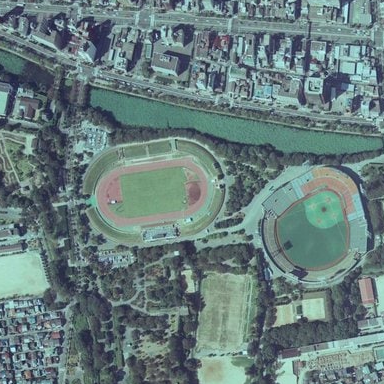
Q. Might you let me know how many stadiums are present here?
2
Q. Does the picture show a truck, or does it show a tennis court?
tennis court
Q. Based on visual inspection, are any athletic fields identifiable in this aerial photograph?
Yes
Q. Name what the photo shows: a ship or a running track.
running track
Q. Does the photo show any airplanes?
No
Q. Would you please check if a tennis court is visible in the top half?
No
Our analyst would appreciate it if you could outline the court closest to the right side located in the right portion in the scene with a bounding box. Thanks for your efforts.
[302,291,327,322]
